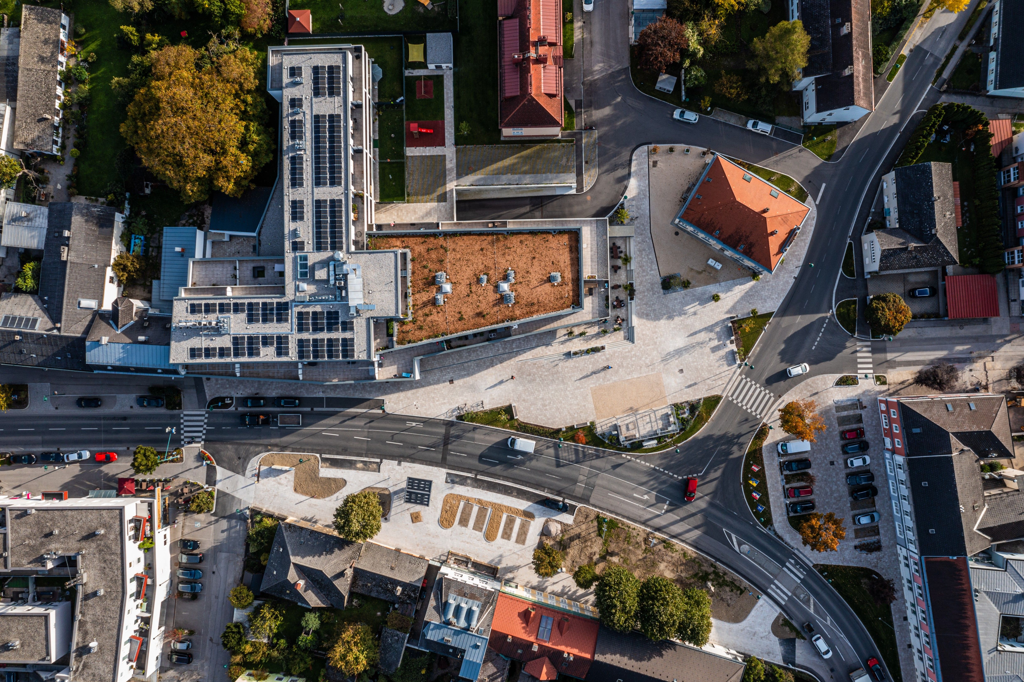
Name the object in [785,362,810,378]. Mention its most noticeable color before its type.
white car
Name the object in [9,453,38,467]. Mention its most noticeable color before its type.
black car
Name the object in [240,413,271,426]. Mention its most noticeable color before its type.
black vehicle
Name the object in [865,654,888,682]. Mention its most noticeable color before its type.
black car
